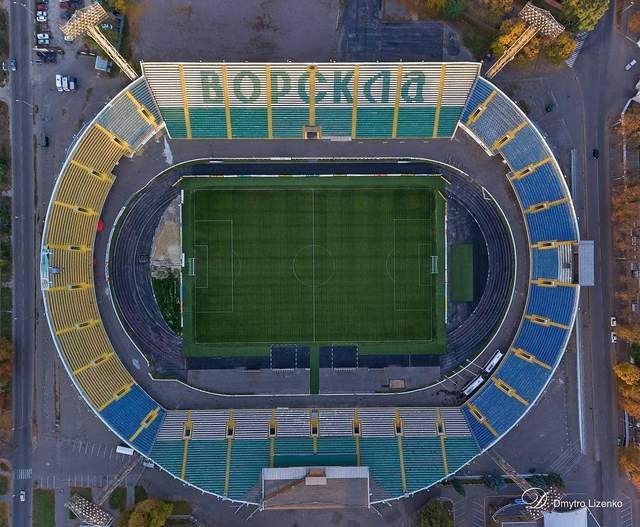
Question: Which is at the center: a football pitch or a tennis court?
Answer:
football pitch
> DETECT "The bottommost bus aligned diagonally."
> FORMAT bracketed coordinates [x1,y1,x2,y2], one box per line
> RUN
[461,374,486,396]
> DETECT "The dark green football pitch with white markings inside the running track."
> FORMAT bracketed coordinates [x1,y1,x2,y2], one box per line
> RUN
[182,176,447,394]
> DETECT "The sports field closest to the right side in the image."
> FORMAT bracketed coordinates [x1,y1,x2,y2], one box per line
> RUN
[451,244,473,302]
